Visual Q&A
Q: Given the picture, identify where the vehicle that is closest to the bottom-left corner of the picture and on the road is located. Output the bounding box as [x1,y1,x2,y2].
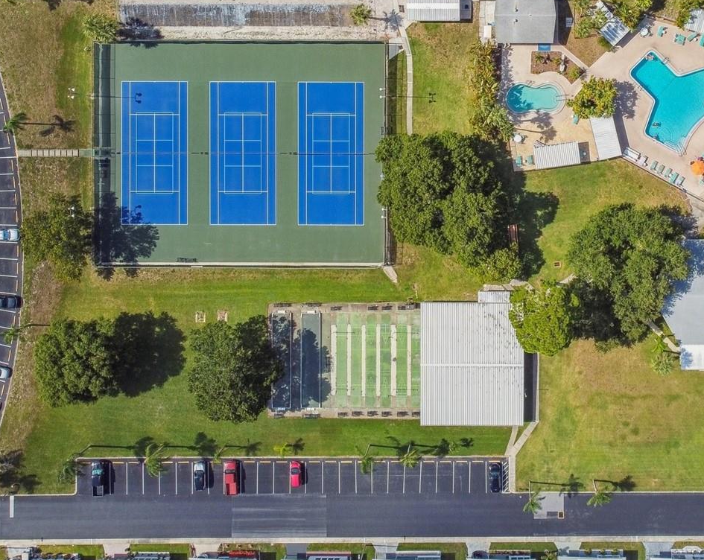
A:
[90,460,107,497]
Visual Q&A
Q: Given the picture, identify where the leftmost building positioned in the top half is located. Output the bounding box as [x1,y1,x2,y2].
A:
[407,0,460,21]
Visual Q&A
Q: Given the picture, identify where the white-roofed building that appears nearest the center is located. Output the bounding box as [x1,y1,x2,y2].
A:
[420,290,524,425]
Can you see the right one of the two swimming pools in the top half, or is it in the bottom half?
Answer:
top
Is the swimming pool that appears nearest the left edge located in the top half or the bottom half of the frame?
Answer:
top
